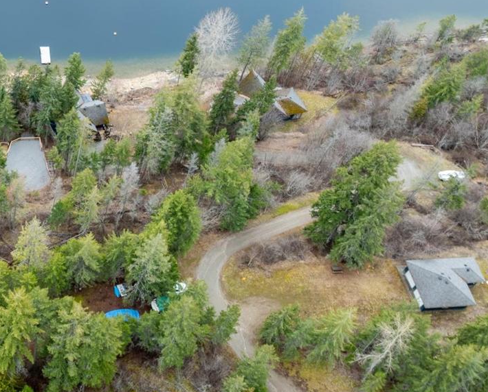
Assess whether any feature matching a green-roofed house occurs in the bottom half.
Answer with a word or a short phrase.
No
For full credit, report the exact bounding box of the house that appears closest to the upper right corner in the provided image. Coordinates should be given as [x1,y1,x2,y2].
[276,90,307,124]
